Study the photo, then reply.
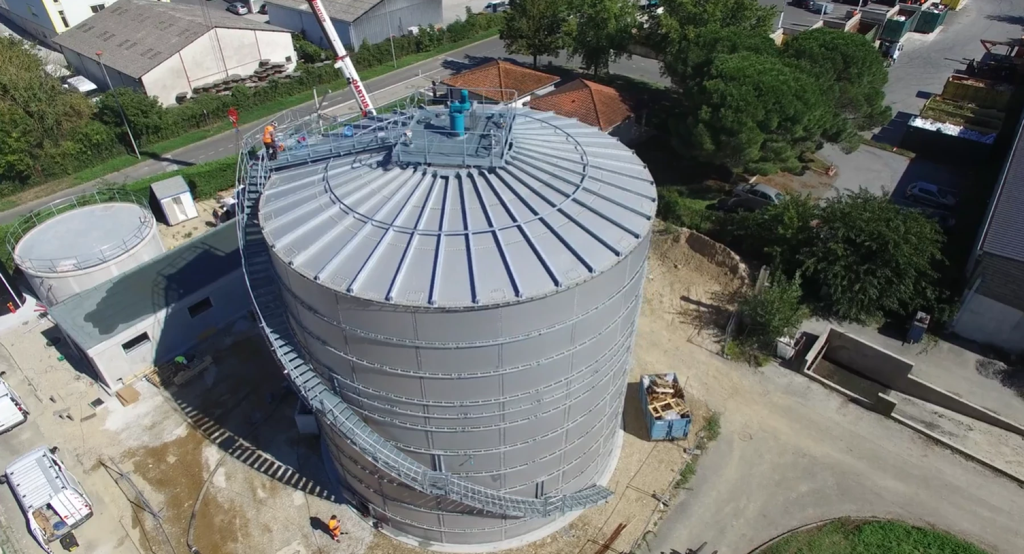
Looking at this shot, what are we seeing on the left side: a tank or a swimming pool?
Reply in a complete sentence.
It is a tank that can be seen on the left side.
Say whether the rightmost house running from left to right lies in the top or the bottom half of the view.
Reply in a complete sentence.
Seen from above, the rightmost house running from left to right lies in the top half of the view.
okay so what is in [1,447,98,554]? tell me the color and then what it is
white van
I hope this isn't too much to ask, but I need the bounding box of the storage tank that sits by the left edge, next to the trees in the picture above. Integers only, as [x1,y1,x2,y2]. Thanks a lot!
[6,184,176,319]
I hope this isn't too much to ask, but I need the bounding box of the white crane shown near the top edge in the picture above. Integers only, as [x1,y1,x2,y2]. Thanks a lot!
[300,0,395,141]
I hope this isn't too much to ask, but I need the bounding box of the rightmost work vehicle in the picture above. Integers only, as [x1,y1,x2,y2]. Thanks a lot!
[988,38,1024,73]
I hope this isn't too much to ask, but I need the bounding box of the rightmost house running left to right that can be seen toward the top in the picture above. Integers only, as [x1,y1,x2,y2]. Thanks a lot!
[532,85,638,144]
